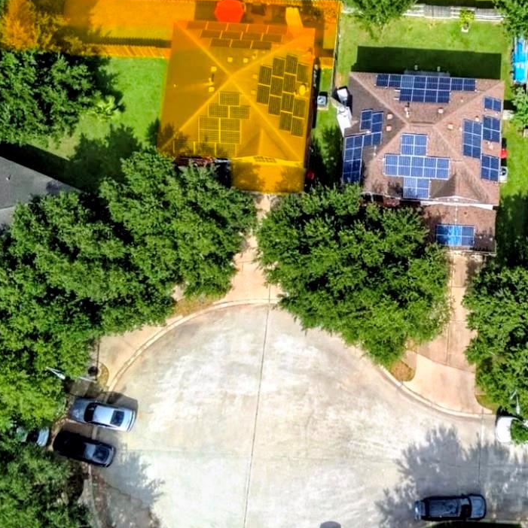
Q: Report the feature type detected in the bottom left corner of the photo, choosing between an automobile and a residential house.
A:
automobile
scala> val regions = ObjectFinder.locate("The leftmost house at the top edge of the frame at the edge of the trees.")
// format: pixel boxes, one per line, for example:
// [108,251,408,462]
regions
[156,8,319,198]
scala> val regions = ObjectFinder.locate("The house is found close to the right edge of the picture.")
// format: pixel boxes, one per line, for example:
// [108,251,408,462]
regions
[340,66,506,254]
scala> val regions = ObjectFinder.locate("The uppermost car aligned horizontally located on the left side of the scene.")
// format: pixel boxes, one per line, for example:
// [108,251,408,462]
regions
[67,396,136,430]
